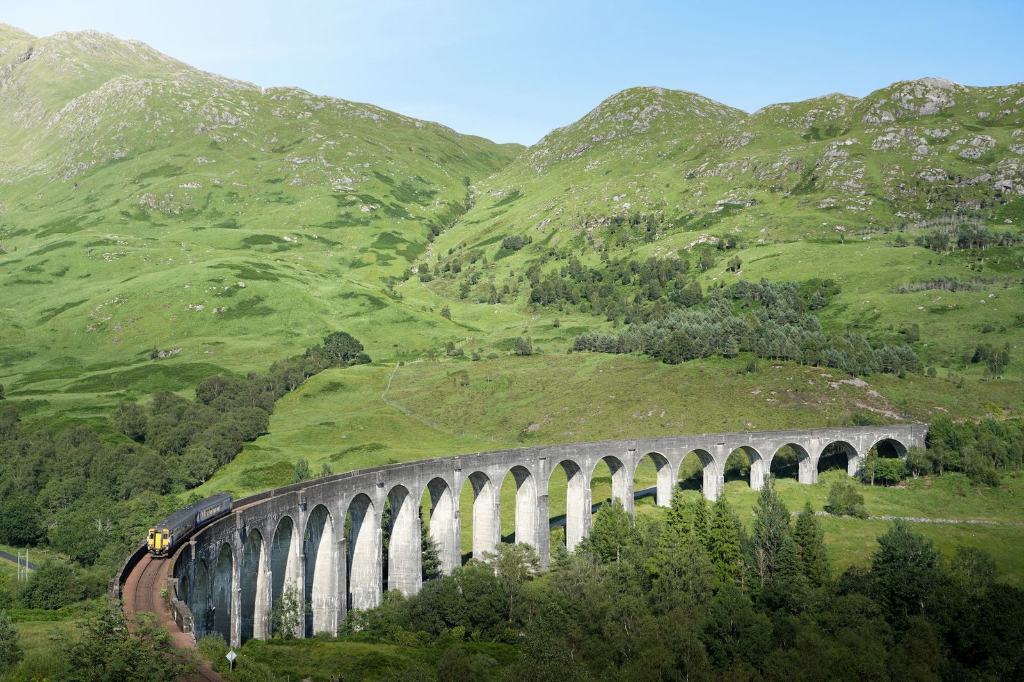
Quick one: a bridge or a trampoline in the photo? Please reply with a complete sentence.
The image shows a bridge.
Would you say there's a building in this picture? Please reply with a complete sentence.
No, no building is visible in the view.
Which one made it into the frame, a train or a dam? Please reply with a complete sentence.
The image shows a train.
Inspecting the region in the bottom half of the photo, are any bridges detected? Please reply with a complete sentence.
Yes, I can see a bridge in the bottom half of the photo.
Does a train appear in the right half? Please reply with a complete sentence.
No, I can find no train in the right half.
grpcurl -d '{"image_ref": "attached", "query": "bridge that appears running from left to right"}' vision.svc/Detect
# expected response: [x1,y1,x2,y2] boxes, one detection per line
[99,423,941,649]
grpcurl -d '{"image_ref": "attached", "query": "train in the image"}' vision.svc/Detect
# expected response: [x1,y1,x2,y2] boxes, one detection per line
[148,492,233,555]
